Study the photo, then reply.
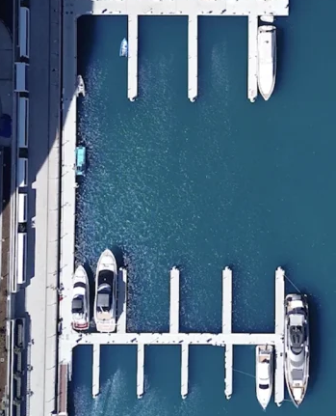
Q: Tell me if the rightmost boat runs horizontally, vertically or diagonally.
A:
vertically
